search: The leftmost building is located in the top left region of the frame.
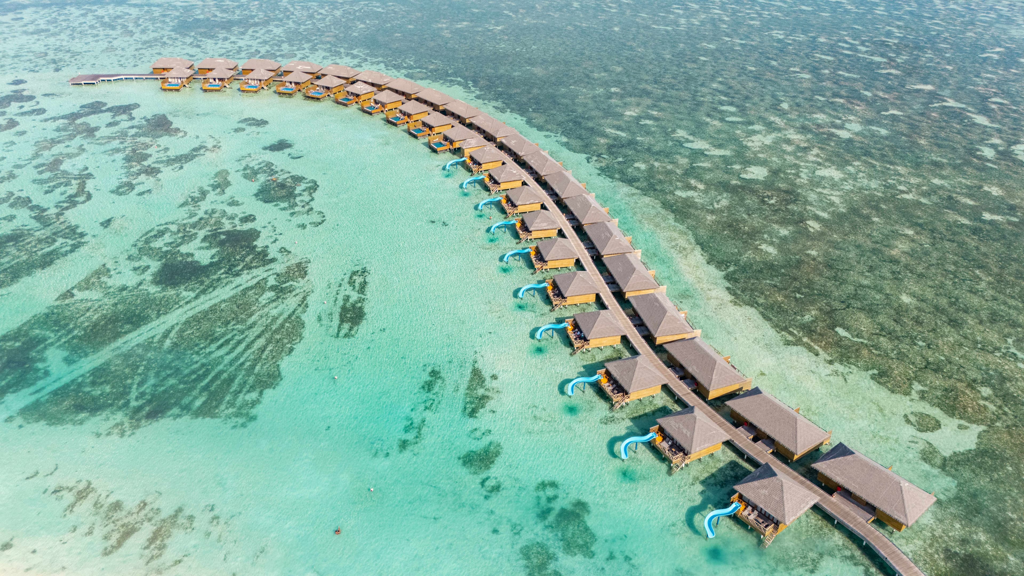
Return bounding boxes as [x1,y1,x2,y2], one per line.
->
[151,58,195,74]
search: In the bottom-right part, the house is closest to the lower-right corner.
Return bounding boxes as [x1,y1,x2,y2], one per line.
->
[812,442,936,539]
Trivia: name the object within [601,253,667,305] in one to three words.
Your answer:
house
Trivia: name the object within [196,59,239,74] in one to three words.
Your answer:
house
